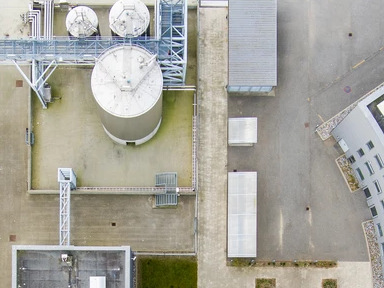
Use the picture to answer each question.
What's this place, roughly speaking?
industrial area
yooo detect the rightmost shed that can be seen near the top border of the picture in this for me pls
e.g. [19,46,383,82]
[226,0,278,98]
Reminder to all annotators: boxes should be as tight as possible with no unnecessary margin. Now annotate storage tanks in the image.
[91,42,164,147]
[66,6,104,44]
[109,0,151,44]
